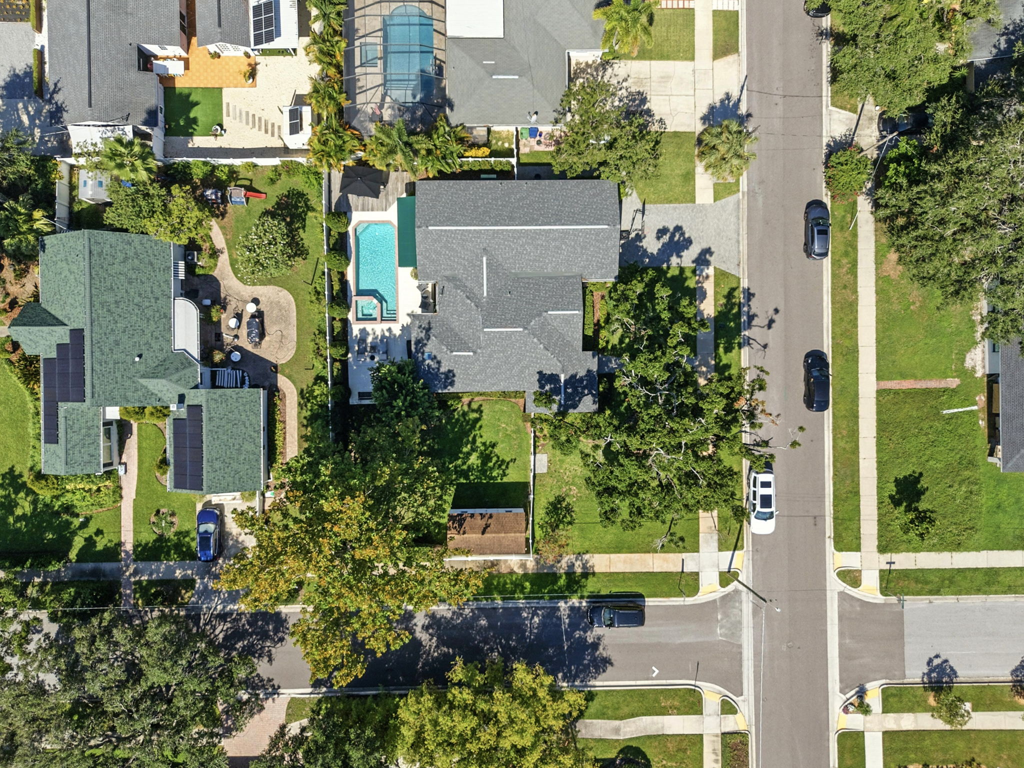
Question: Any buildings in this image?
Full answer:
Yes, this view includes a building.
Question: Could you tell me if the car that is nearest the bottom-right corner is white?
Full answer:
Yes, the car that is nearest the bottom-right corner appears white.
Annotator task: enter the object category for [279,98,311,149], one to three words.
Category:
shed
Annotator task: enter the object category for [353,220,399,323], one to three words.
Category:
swimming pool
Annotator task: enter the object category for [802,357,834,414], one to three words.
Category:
car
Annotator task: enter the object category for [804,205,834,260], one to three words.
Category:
car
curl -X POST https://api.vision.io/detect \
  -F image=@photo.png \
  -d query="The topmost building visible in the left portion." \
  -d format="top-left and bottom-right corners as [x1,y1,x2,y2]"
[192,0,255,56]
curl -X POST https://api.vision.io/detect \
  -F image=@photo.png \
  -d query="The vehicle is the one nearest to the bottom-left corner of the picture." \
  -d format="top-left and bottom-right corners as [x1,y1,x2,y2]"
[192,503,223,563]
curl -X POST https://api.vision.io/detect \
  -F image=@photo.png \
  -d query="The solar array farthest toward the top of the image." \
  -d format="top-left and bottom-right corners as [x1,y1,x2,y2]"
[252,0,277,49]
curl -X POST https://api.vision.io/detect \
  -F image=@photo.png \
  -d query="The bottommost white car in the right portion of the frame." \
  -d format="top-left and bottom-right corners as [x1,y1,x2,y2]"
[746,468,778,534]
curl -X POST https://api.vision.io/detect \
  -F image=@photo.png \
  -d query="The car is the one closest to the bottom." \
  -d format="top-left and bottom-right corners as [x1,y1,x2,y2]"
[584,602,646,632]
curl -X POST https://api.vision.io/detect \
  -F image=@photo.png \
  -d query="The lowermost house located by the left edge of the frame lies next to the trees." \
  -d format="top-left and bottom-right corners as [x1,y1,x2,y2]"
[9,234,270,497]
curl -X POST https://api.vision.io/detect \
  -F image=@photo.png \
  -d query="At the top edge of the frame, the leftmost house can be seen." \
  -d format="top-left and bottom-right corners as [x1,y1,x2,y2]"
[49,0,187,142]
